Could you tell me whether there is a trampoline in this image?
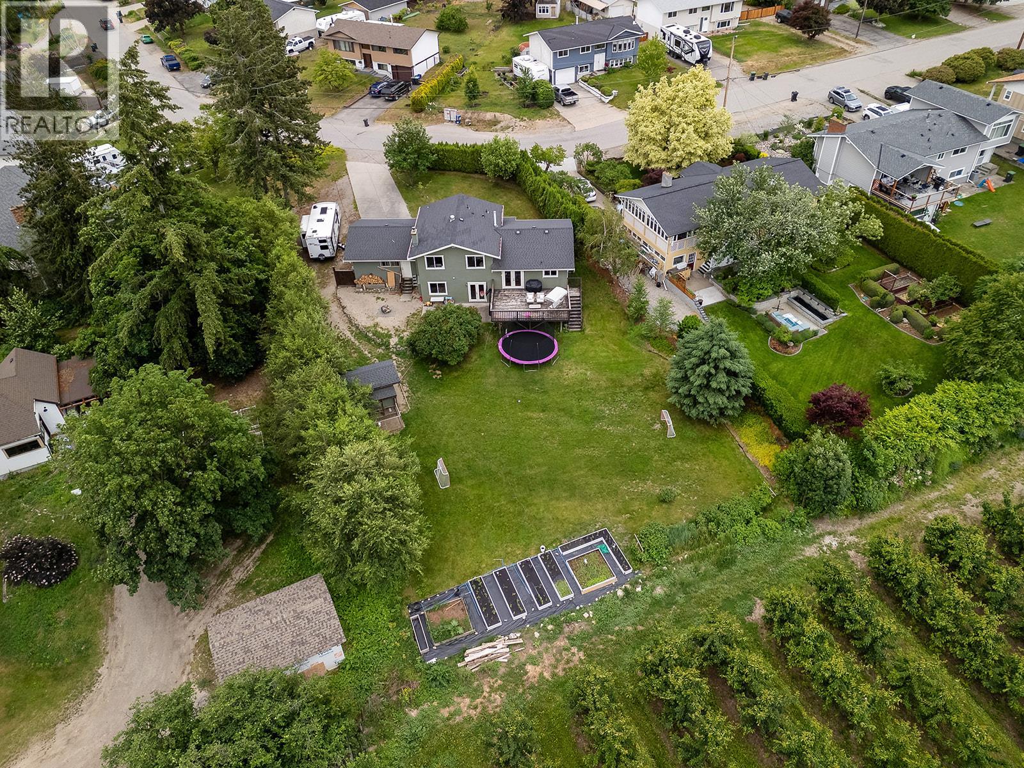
Yes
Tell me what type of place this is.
residential area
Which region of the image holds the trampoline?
center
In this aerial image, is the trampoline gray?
No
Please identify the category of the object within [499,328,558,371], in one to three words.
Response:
trampoline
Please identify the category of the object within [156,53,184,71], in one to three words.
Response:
vehicle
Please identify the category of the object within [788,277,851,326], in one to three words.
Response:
pond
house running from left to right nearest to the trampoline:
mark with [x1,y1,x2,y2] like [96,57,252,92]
[343,190,575,302]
